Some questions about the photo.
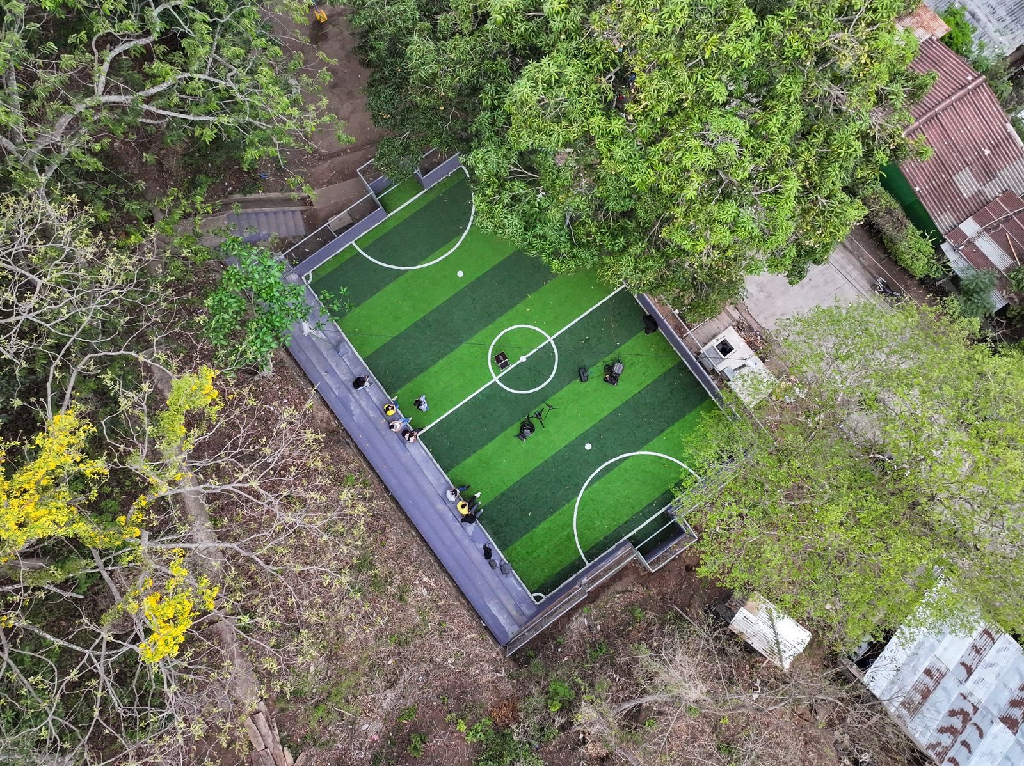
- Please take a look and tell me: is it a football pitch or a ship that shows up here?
football pitch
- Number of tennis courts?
none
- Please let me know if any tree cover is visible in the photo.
Yes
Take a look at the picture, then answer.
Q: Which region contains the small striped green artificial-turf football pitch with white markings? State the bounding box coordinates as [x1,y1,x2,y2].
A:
[302,133,749,606]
